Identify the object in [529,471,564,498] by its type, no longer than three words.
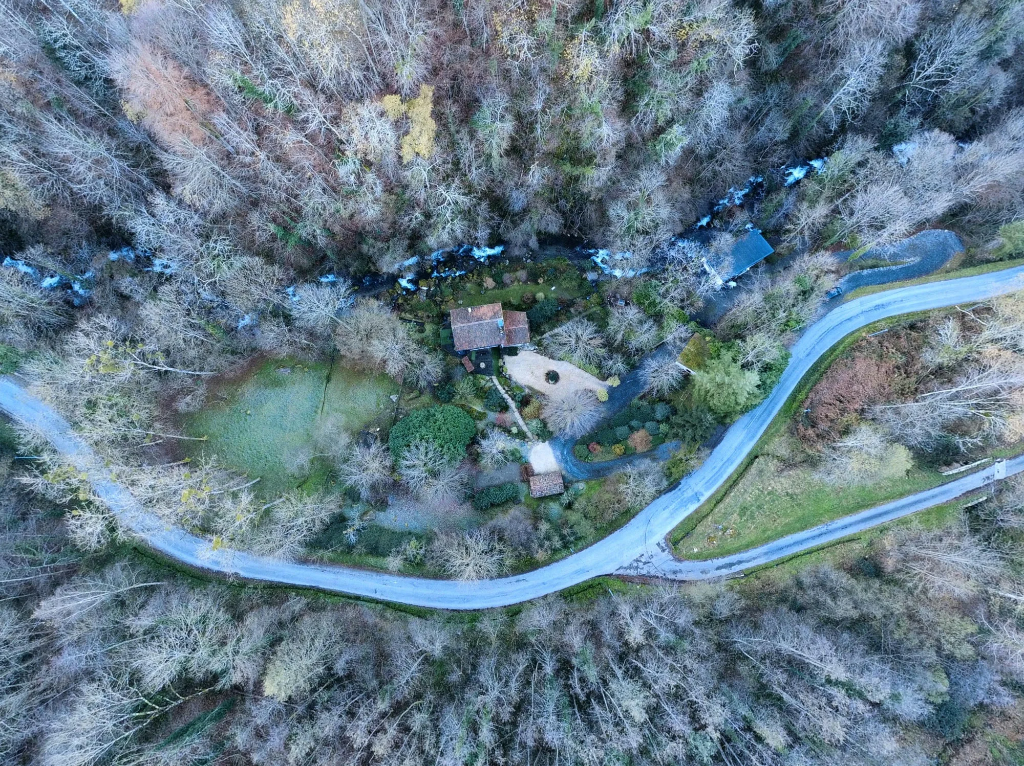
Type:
shed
